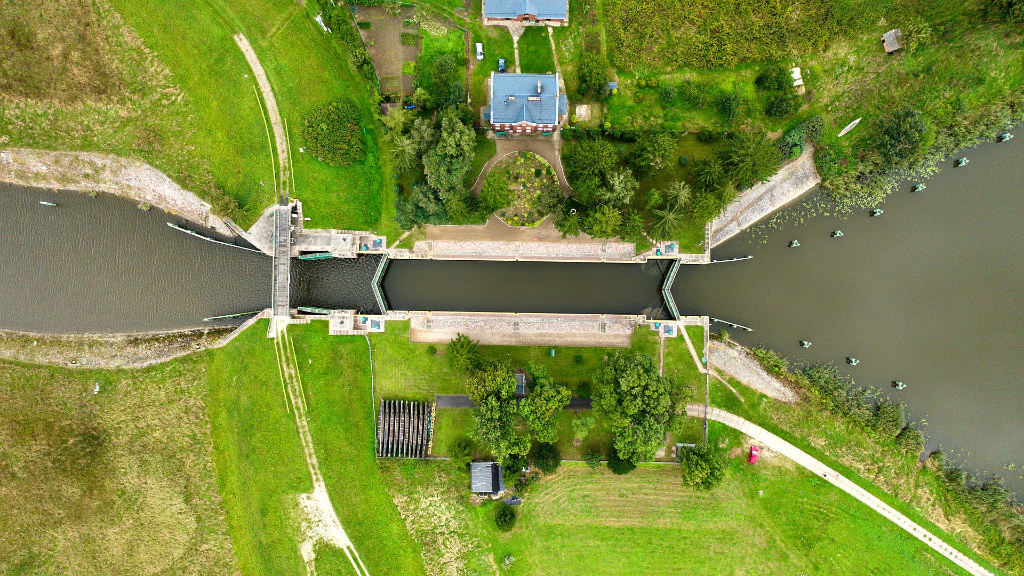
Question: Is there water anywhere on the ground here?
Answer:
Yes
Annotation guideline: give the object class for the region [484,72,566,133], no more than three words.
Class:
house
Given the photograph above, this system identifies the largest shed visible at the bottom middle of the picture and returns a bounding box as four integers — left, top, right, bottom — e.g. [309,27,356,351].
[471,460,505,496]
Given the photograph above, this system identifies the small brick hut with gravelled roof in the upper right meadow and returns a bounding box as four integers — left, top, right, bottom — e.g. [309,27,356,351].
[881,27,907,52]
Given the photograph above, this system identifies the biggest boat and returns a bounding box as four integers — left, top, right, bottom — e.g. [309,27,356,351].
[840,117,862,135]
